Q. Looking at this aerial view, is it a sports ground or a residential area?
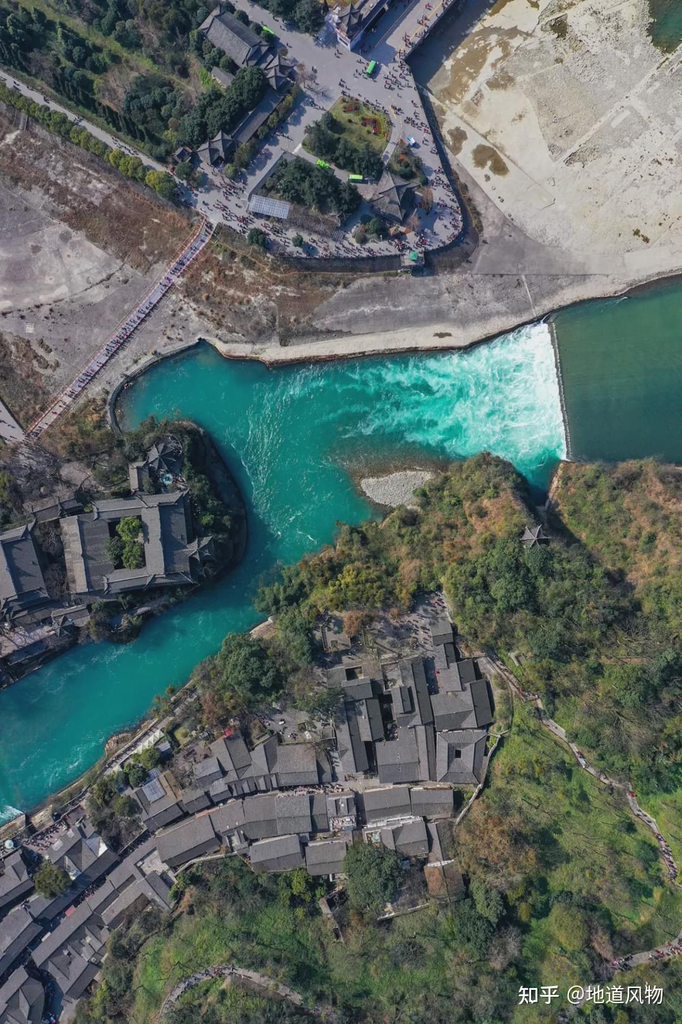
residential area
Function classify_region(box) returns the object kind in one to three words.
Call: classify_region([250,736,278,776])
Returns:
house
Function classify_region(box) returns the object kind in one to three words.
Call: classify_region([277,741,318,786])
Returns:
house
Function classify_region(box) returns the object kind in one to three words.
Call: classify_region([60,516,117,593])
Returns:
building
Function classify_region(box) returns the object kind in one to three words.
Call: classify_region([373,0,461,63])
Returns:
bridge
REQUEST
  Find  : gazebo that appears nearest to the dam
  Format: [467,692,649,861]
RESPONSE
[522,522,551,549]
